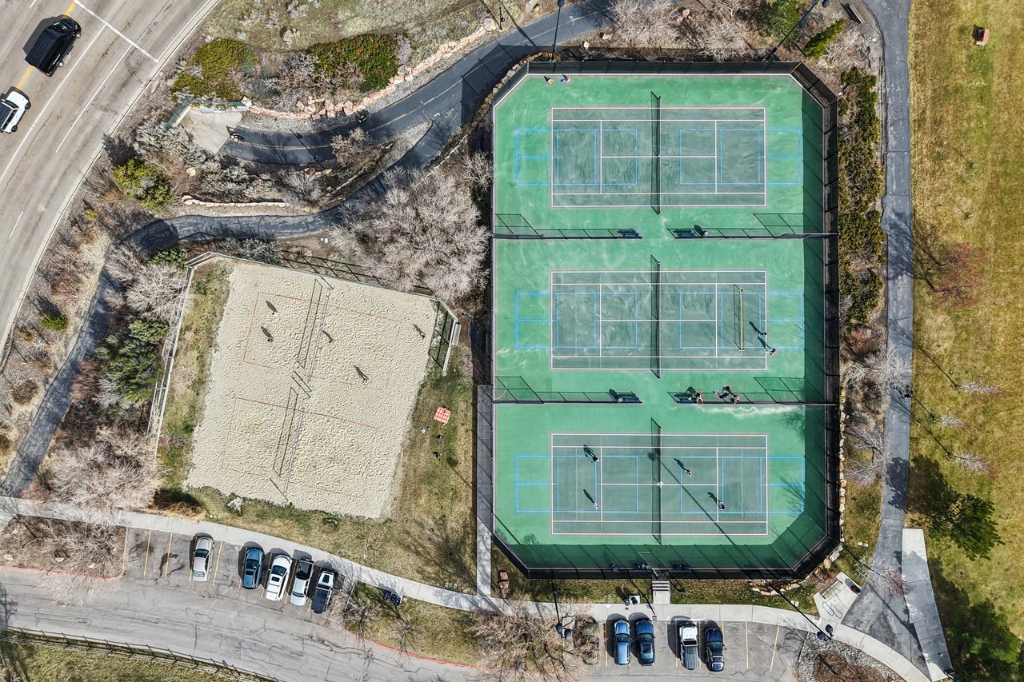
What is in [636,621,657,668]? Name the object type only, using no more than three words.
car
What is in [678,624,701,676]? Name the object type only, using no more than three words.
car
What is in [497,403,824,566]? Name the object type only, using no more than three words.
tennis court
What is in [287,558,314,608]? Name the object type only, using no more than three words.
vehicle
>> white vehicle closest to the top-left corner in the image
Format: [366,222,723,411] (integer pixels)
[0,89,28,131]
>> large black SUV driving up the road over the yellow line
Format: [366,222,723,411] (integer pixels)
[32,17,79,68]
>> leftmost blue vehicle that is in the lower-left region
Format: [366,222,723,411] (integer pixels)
[238,550,262,593]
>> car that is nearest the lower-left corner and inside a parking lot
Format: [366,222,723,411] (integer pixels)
[187,538,212,584]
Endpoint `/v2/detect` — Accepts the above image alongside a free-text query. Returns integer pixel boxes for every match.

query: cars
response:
[32,17,79,68]
[187,538,212,584]
[636,621,657,668]
[238,550,262,593]
[678,624,701,676]
[703,627,725,673]
[0,89,28,131]
[306,571,336,620]
[614,623,633,667]
[262,556,292,604]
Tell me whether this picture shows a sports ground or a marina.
sports ground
